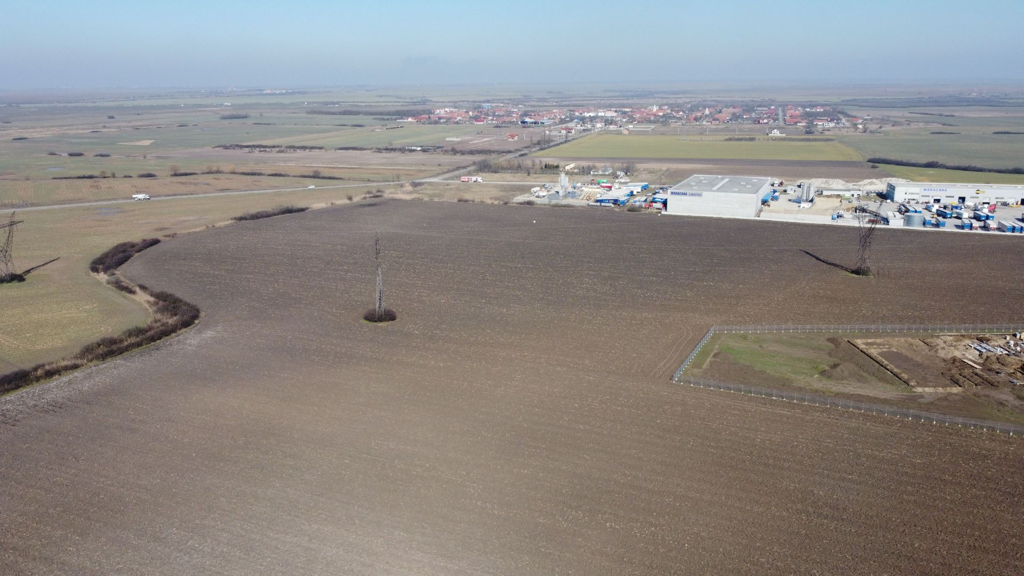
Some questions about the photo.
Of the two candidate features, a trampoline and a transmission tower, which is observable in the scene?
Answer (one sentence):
It is a transmission tower that can be seen here.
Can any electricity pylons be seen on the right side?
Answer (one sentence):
Yes, I can see an electricity pylon on the right side.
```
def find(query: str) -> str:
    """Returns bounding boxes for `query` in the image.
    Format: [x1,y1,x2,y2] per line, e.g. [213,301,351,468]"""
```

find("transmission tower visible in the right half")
[853,195,887,274]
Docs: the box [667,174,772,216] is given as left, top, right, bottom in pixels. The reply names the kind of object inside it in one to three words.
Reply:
building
